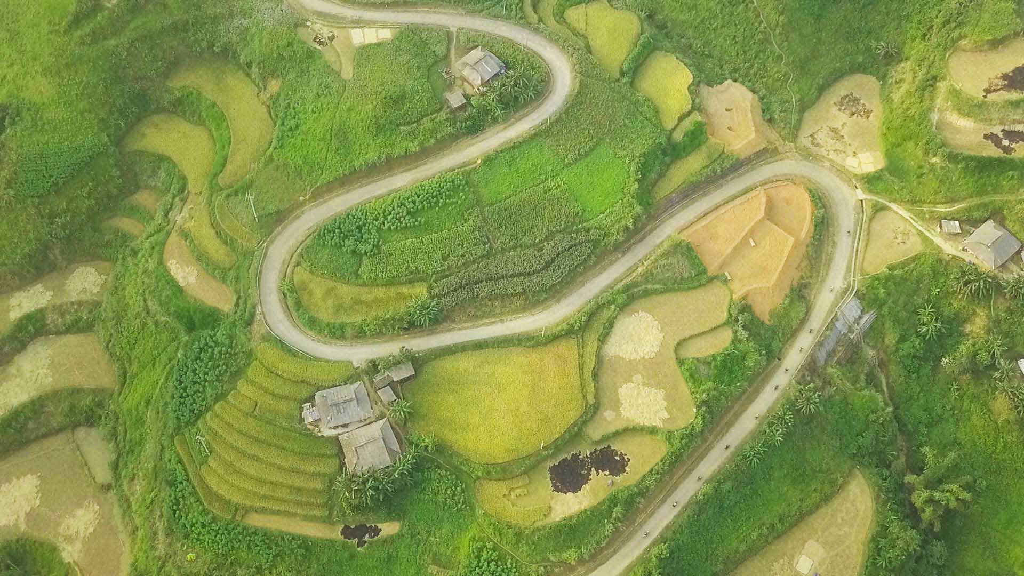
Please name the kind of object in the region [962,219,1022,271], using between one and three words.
house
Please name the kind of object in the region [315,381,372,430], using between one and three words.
house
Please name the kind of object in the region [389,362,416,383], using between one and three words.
shed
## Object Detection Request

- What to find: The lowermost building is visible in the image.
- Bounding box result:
[339,417,401,474]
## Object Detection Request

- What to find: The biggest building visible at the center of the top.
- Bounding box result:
[454,46,505,89]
